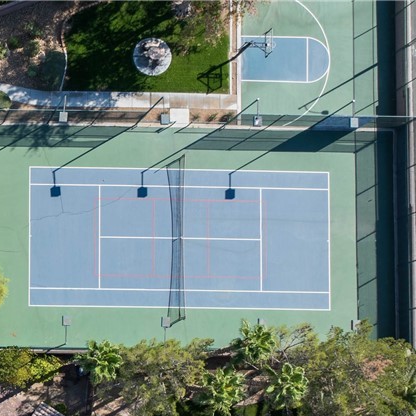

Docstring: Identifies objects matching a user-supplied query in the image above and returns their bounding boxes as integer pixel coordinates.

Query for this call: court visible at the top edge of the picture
[240,0,377,124]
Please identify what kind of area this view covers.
sports ground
